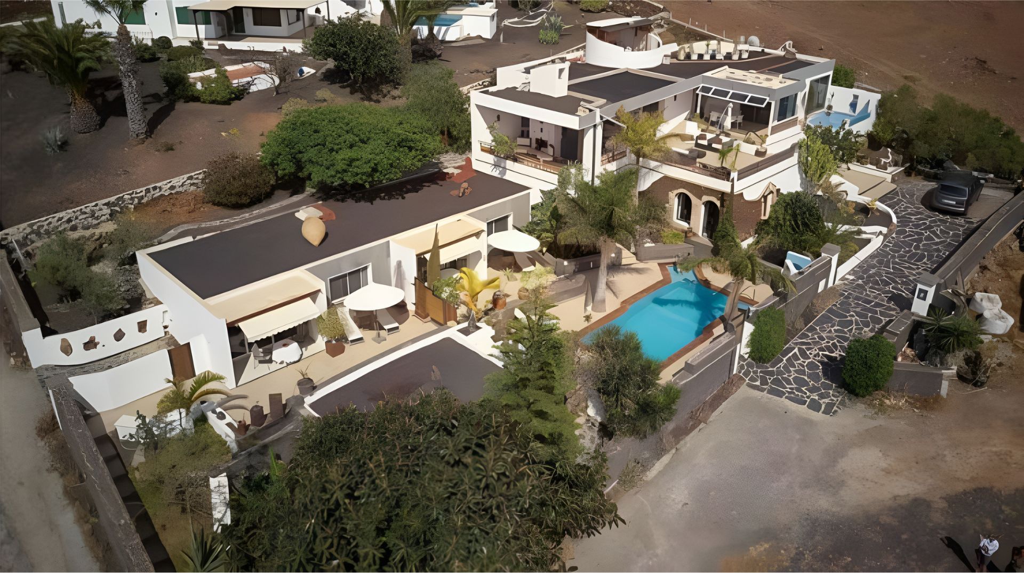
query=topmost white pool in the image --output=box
[411,0,499,40]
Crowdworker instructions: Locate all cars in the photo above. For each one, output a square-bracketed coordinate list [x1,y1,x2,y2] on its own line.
[932,166,987,209]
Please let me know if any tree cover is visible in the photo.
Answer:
Yes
